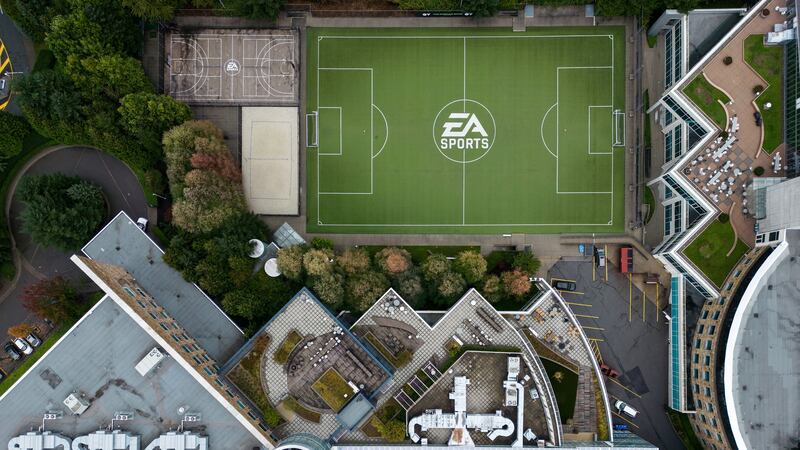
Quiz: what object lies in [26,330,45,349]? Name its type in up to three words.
car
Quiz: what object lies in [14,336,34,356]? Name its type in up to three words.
car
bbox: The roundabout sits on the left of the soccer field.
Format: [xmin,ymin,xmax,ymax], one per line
[6,145,148,262]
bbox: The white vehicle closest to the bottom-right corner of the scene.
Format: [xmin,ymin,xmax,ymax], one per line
[613,398,638,418]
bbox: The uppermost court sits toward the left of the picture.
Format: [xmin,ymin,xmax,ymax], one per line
[165,27,299,104]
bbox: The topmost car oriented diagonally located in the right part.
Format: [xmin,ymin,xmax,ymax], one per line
[600,362,620,379]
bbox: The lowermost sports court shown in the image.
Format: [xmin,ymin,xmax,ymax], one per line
[241,106,298,215]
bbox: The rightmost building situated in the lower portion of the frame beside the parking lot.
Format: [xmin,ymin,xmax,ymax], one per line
[688,230,800,450]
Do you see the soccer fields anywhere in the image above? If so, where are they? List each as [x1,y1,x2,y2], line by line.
[307,27,625,234]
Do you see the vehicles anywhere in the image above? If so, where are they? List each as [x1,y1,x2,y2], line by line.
[555,280,577,291]
[597,247,606,268]
[135,214,151,232]
[0,370,9,385]
[4,341,23,362]
[600,362,620,379]
[14,336,34,356]
[613,398,638,418]
[610,419,628,429]
[26,330,45,349]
